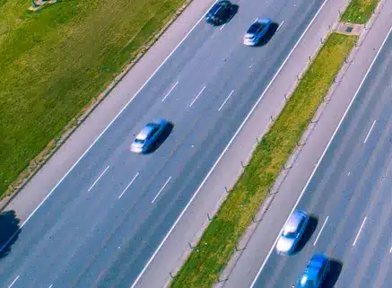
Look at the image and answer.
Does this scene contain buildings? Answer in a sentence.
No, this view has no building in it.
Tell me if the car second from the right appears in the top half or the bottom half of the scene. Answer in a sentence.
It is in the bottom half that the car second from the right appears.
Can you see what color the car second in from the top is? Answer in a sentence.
In this view, the car second in from the top is blue.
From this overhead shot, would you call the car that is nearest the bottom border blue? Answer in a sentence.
Yes, the car that is nearest the bottom border appears blue.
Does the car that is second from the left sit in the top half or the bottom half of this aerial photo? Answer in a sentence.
The car that is second from the left sits in the top half of the picture.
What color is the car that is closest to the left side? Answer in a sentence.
In this view, the car that is closest to the left side is blue.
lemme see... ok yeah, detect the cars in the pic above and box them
[273,207,312,259]
[205,2,235,26]
[128,120,169,158]
[297,250,333,288]
[243,20,274,48]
